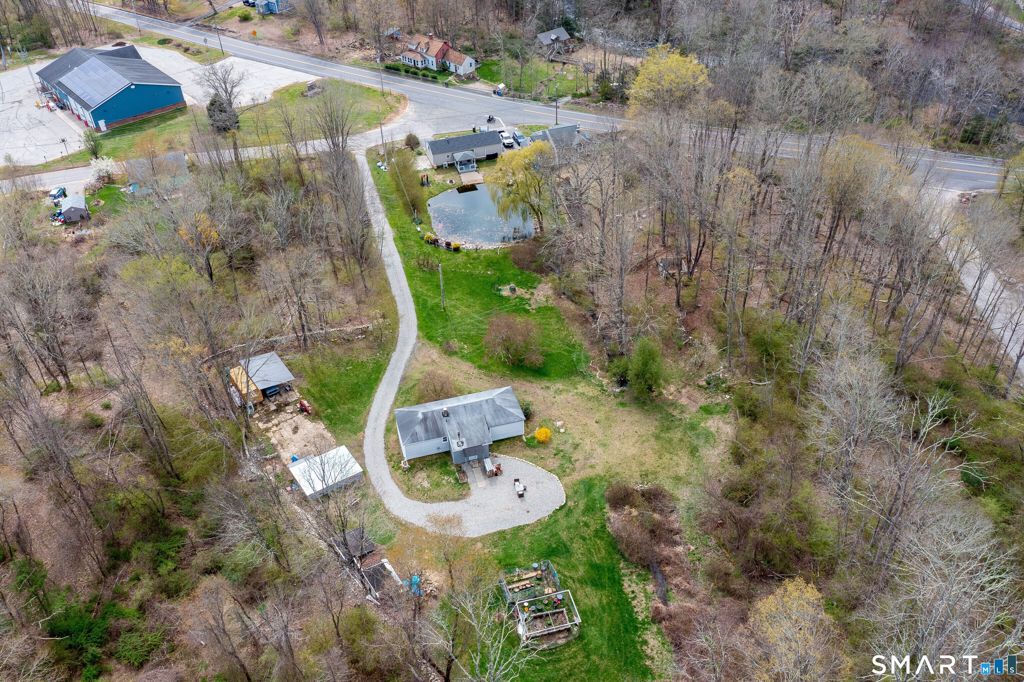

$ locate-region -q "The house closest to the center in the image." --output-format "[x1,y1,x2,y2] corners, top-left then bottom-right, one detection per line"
[394,384,528,471]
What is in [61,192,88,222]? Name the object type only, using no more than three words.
shed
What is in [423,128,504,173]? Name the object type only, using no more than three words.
house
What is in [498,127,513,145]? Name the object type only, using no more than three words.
vehicle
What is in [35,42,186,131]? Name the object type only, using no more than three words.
building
